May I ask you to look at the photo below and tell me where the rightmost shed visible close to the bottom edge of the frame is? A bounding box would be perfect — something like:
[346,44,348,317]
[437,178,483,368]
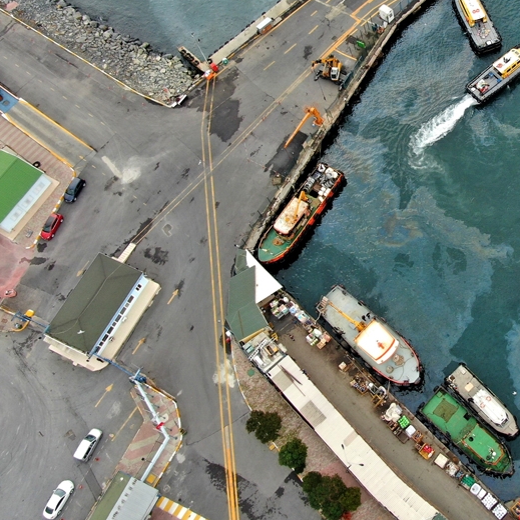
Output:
[269,360,440,520]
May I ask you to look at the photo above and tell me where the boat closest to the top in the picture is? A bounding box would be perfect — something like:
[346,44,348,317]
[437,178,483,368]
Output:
[450,0,503,57]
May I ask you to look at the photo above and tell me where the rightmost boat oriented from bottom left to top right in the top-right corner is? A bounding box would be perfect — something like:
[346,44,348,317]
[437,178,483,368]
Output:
[465,47,520,106]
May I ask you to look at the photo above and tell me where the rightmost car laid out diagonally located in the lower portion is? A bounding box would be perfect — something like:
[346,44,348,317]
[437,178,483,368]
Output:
[70,426,105,464]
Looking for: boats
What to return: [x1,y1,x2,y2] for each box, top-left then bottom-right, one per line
[254,161,345,266]
[418,387,518,481]
[465,47,520,106]
[308,288,424,389]
[450,0,503,57]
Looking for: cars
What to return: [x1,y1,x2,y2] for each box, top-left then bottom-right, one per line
[70,426,105,464]
[40,212,65,241]
[40,479,77,520]
[62,174,89,204]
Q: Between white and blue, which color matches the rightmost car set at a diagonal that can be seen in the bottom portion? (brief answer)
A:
white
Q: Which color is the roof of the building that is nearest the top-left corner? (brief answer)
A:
green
